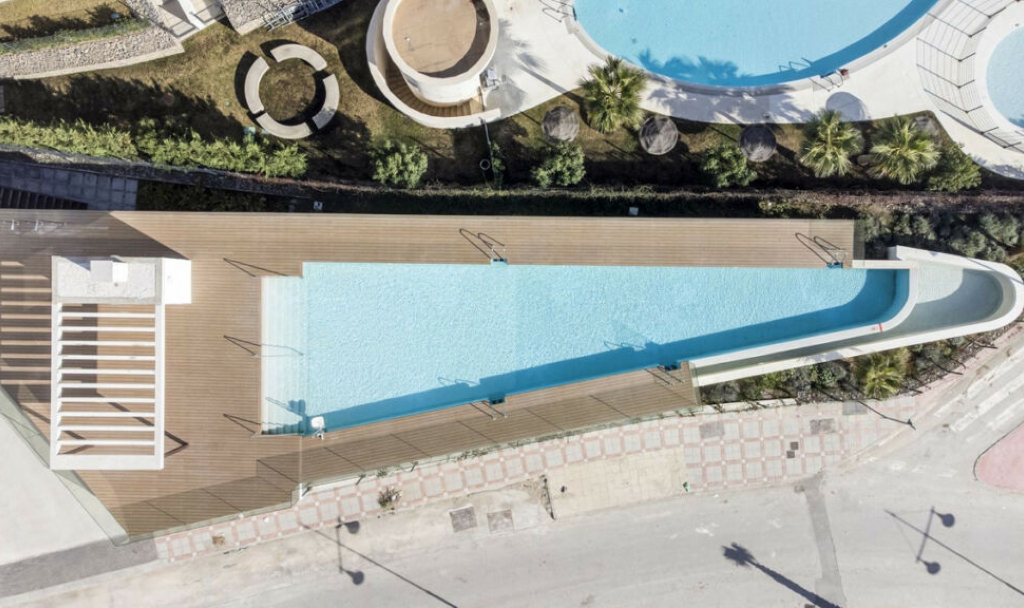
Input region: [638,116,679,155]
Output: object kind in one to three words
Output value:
umbrella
